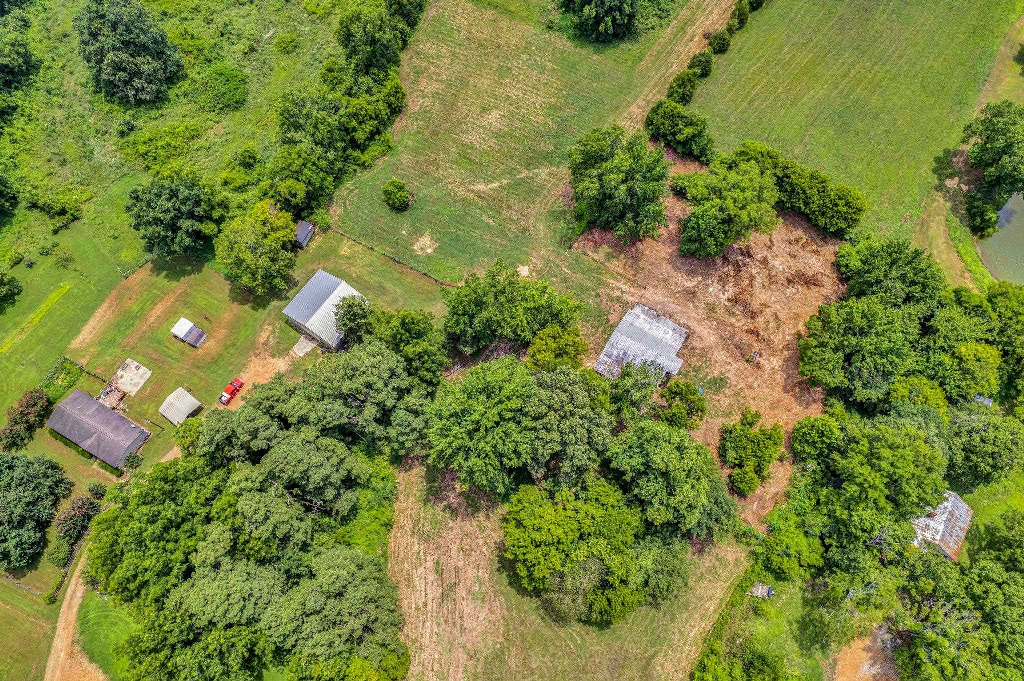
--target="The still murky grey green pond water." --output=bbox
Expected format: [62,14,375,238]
[975,194,1024,292]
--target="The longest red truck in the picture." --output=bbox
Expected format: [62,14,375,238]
[218,376,246,407]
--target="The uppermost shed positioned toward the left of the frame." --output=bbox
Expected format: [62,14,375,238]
[288,218,313,248]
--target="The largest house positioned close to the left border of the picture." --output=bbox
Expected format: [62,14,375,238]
[48,388,154,469]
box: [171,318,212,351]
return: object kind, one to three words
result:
shed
